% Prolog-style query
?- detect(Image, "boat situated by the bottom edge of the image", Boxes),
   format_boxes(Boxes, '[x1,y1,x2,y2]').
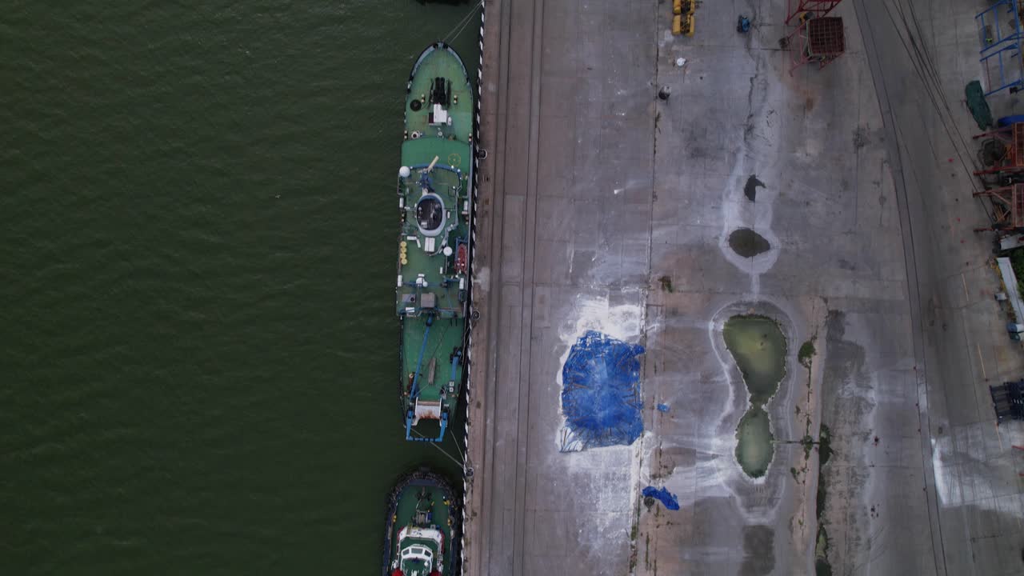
[383,469,462,576]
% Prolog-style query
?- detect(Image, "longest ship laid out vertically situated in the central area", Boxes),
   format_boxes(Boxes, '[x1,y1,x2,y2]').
[396,37,474,443]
